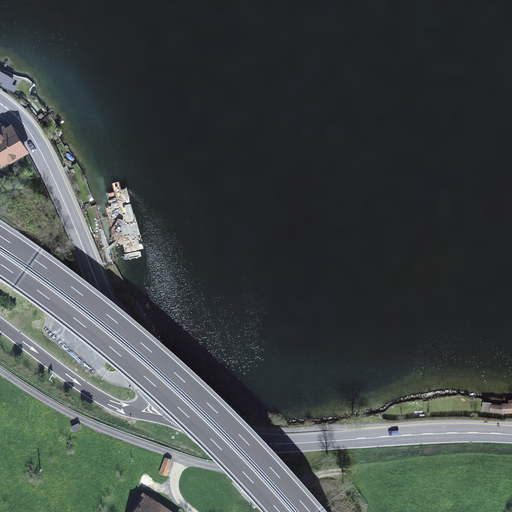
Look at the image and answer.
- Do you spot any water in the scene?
Yes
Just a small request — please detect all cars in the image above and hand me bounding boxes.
[388,430,399,436]
[27,138,36,150]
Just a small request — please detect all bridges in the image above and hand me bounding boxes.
[0,220,326,512]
